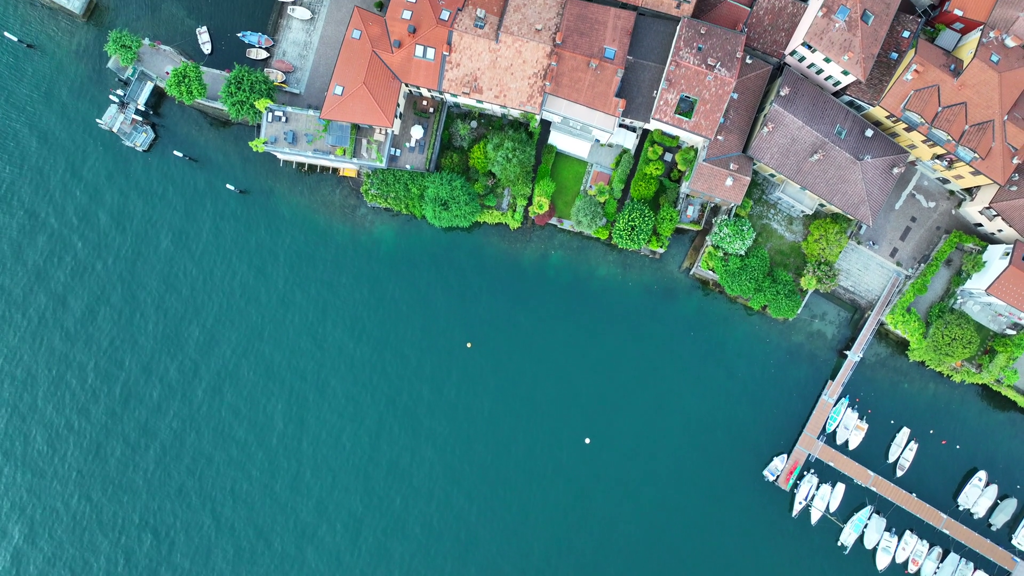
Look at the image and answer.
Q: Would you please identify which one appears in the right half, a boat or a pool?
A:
boat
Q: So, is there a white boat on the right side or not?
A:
Yes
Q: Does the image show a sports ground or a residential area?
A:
residential area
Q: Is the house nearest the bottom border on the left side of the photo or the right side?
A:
right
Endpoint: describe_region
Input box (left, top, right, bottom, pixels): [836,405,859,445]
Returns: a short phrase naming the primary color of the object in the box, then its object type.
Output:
white boat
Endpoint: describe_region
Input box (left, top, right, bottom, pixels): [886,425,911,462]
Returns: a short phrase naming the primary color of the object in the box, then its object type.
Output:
white boat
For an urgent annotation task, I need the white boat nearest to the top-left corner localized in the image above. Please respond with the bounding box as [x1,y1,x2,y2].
[195,24,210,55]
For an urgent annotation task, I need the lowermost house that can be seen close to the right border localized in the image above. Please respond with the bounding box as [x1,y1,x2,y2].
[960,239,1024,326]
